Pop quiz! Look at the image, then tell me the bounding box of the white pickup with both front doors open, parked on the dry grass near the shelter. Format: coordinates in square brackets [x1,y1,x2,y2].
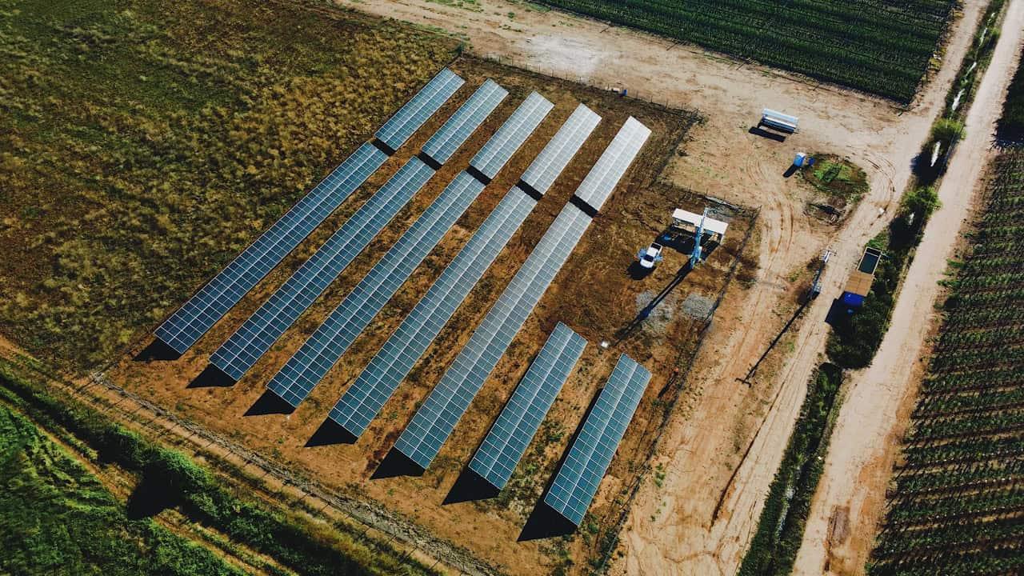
[640,242,664,269]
